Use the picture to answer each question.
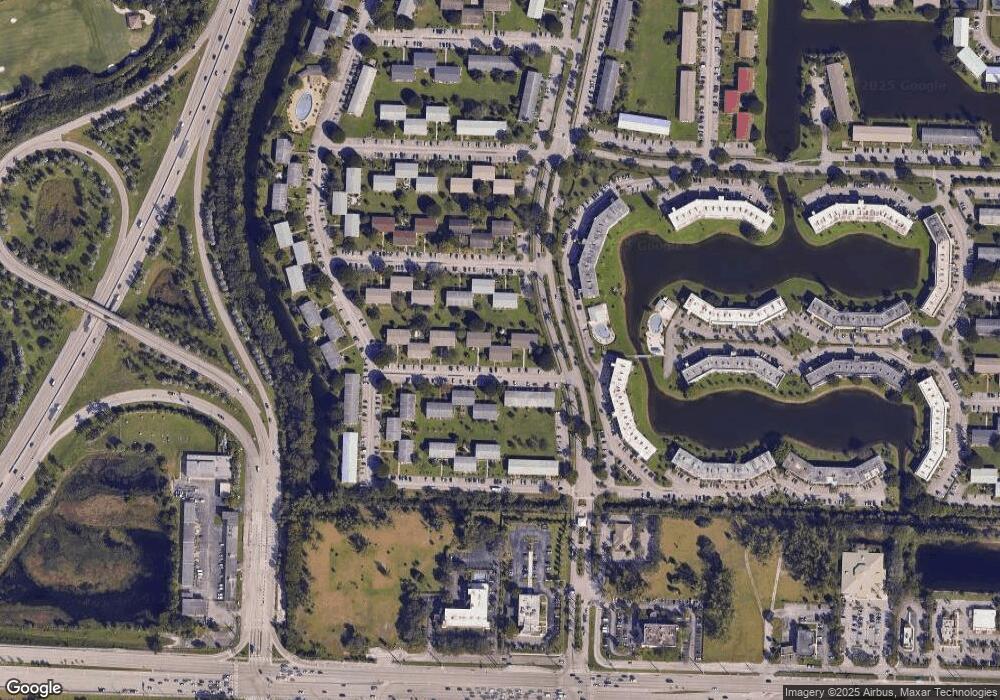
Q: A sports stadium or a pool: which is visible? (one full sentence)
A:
Visible in the photo is a pool.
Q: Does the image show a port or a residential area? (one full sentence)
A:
What you see here is a residential area.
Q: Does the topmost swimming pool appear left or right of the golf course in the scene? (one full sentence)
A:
From the viewer's perspective, the topmost swimming pool falls to the right of the golf course.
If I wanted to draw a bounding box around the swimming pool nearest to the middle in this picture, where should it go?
[589,320,615,345]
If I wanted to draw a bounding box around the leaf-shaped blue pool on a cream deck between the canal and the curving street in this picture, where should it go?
[287,73,327,133]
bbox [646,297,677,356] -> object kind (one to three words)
swimming pool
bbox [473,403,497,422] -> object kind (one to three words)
house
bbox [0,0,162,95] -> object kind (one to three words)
golf course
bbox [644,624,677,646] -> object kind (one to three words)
building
